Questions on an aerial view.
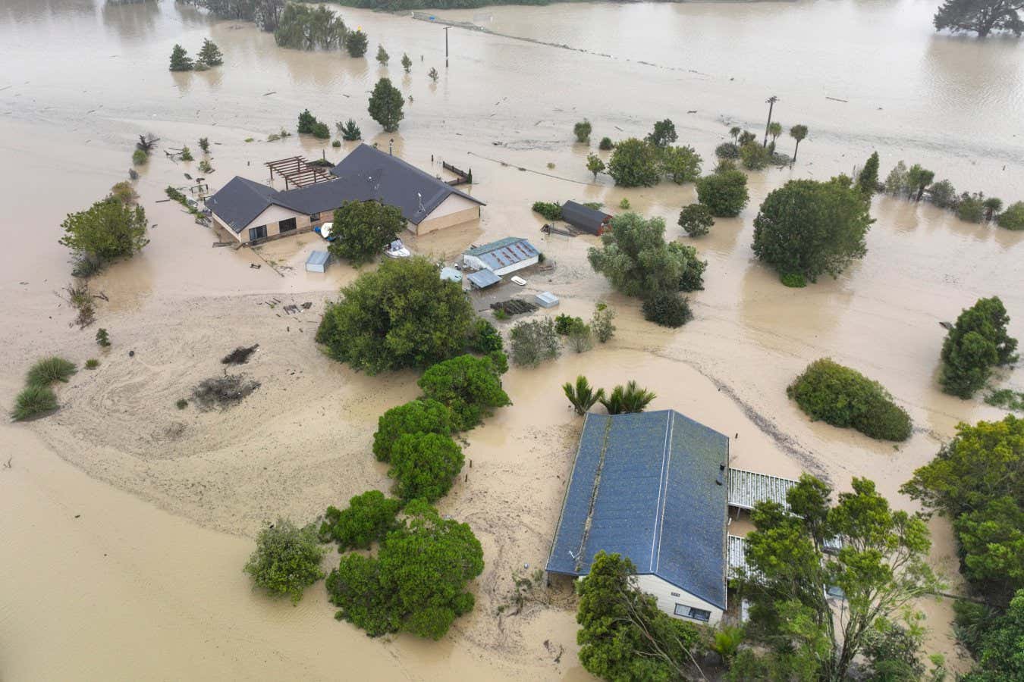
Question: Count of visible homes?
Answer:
2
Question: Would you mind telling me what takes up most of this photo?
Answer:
water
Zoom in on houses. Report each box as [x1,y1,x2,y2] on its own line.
[541,408,817,626]
[206,140,487,244]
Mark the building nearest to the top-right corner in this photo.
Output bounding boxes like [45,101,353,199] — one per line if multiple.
[561,205,618,239]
